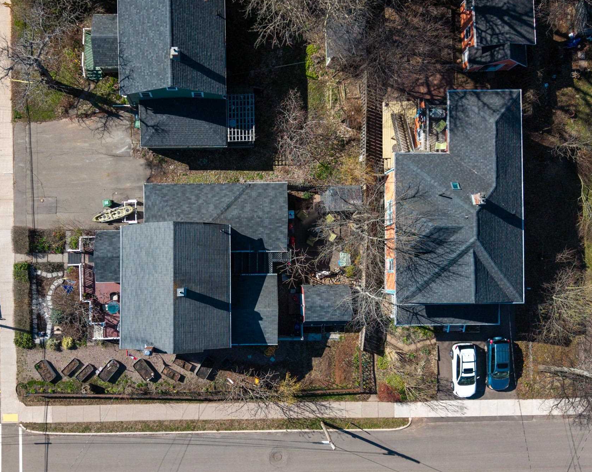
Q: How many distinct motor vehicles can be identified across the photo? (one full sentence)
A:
The number of motor vehicles here is 2.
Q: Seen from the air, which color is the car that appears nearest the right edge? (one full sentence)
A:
The car that appears nearest the right edge looks blue in the image.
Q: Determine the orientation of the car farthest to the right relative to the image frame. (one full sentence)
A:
In this picture, the car farthest to the right lies from top to bottom.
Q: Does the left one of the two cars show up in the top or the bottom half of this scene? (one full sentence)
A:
You can find the left one of the two cars in the bottom half.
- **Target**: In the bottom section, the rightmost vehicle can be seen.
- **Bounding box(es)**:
[486,335,515,392]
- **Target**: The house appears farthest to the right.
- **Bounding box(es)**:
[457,0,537,75]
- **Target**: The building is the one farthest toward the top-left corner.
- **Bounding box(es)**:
[81,0,227,151]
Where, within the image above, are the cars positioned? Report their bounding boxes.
[452,341,482,399]
[486,335,515,392]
